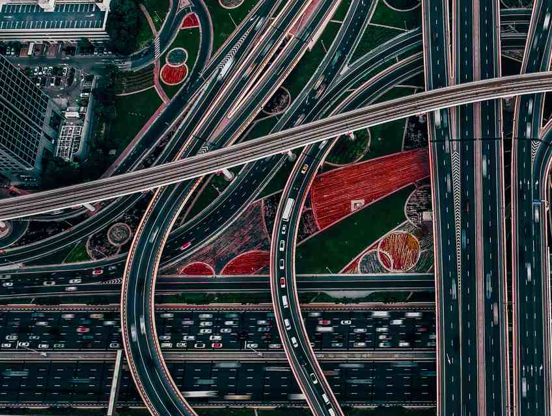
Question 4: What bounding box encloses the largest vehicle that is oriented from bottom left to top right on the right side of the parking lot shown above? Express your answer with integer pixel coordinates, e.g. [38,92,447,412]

[217,56,234,78]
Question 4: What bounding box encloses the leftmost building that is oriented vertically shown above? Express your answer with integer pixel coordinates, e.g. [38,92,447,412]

[0,58,55,175]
